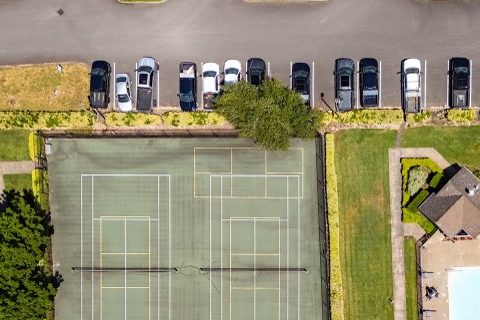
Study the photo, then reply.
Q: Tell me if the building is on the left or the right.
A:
right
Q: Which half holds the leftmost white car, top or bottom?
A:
top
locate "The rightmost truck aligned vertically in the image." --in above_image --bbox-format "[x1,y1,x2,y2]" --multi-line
[450,59,471,110]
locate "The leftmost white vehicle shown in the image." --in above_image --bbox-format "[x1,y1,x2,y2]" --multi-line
[114,73,135,112]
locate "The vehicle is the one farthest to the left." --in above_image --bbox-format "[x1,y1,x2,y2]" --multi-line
[87,61,111,110]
